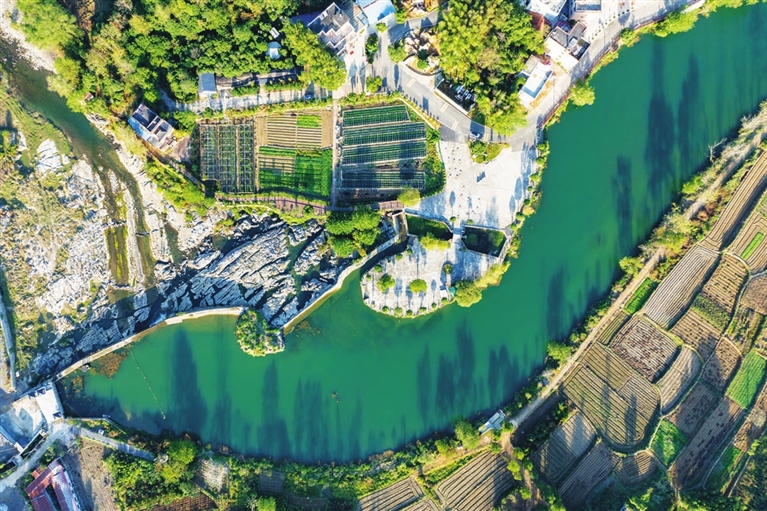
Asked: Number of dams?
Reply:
2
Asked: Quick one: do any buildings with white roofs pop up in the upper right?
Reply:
Yes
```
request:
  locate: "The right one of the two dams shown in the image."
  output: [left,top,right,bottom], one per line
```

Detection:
[284,242,394,332]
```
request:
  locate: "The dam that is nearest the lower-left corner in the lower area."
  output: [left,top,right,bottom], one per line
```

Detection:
[53,309,247,383]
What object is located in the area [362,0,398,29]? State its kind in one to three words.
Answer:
building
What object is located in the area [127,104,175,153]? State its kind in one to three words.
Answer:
house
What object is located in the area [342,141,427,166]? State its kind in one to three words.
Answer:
house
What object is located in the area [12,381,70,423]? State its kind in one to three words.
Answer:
building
